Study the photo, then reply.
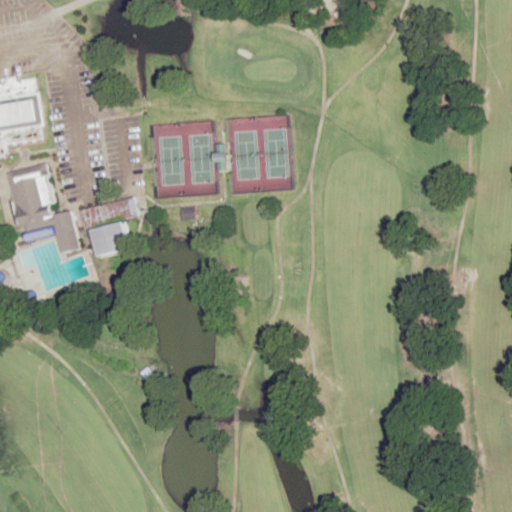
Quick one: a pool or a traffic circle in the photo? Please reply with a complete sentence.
I can see a pool in this picture.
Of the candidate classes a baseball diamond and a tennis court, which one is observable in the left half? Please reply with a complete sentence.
Visible in the left half is a tennis court.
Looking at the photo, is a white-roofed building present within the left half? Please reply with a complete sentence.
Yes, the scene does show a white-roofed building within the left half.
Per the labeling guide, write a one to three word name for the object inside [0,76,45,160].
building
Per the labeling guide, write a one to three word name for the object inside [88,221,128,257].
building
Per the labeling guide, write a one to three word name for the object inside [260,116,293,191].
tennis court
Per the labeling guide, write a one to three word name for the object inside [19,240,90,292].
swimming pool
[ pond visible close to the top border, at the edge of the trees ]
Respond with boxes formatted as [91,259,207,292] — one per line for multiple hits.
[102,0,192,96]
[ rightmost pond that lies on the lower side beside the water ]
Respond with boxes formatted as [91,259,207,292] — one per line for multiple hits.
[146,236,218,510]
